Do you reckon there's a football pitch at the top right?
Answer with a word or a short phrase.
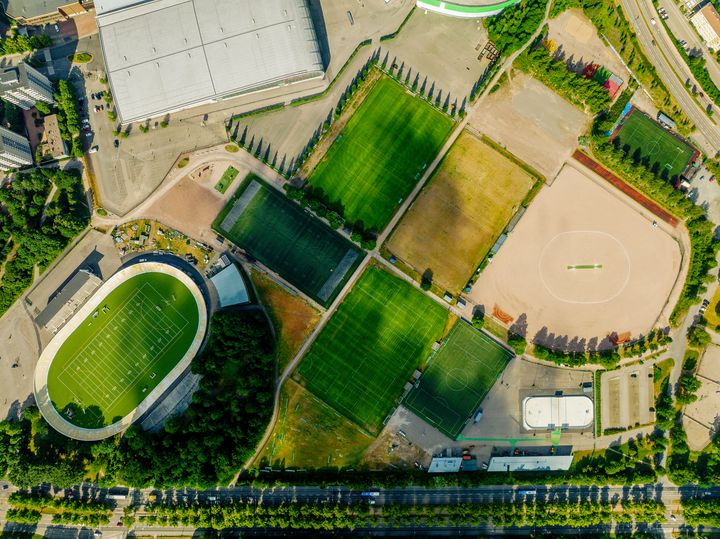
Yes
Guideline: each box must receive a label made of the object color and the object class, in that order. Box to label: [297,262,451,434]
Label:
green soccer field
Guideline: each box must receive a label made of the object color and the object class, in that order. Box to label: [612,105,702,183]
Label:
green soccer field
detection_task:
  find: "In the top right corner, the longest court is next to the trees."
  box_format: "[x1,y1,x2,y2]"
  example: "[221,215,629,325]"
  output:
[584,62,622,97]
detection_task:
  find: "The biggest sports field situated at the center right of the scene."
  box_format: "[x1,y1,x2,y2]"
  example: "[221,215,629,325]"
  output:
[470,163,682,352]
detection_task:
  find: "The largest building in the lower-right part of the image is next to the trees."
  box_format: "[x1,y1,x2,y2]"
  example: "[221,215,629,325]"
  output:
[486,453,574,472]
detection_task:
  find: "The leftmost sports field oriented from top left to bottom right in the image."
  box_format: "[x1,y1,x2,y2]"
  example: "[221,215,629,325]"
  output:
[211,172,366,309]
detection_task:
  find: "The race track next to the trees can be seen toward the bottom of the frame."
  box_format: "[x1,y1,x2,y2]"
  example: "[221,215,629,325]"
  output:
[33,261,209,441]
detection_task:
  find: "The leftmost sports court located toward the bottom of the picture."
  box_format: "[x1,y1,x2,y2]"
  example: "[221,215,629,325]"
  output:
[519,388,598,434]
